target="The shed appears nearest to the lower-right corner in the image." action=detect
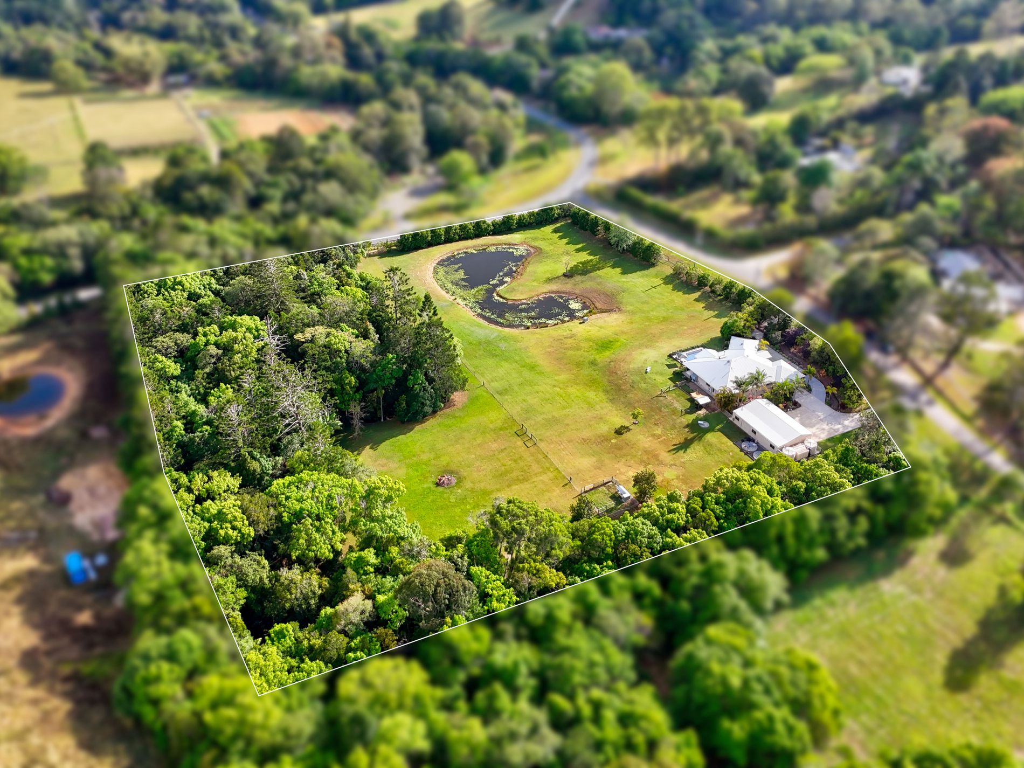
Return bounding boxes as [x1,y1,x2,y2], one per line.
[730,400,812,457]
